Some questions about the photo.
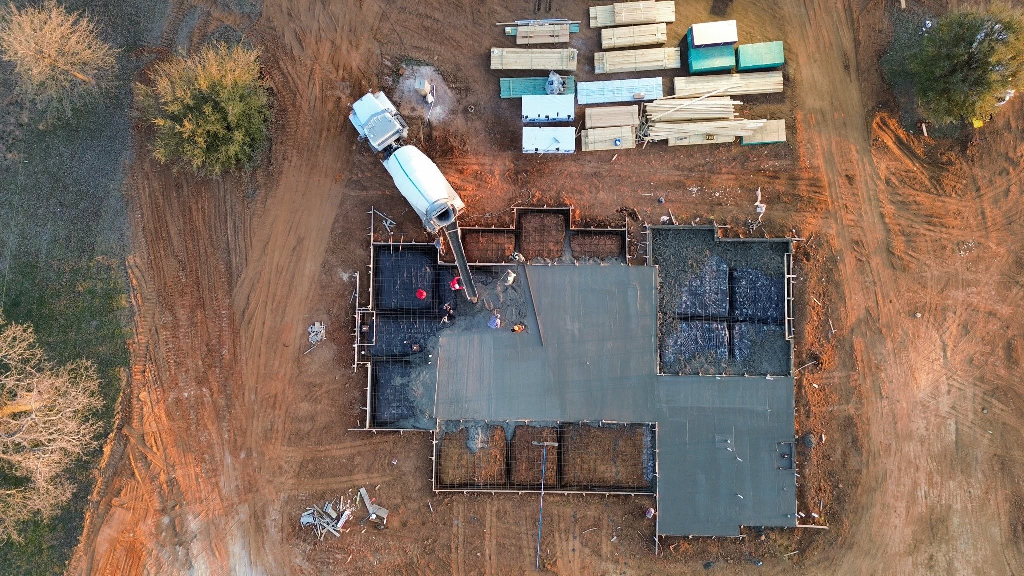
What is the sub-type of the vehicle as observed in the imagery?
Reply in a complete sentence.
The vehicle is a truck.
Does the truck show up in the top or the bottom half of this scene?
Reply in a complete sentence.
The top half of the photo is where the truck is.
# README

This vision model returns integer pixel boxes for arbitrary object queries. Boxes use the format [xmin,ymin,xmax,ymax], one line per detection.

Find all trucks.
[347,90,478,301]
